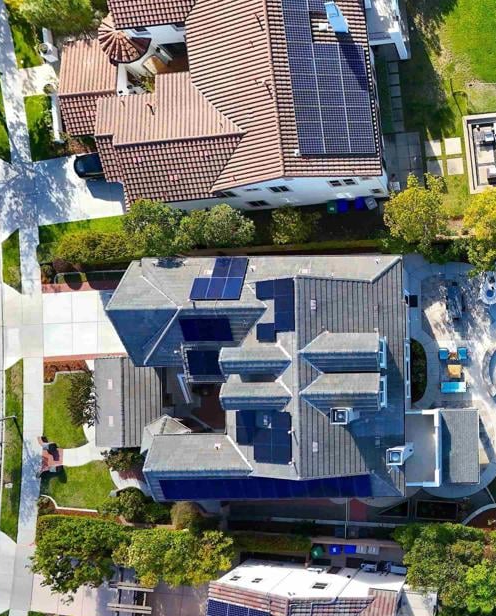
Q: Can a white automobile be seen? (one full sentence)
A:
No, there is no white automobile in the image.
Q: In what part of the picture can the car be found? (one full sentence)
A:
You can find the car in the top left area of the picture.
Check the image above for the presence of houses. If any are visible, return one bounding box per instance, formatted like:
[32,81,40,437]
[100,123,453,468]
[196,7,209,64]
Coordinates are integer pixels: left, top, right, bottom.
[94,256,480,503]
[206,564,435,616]
[57,0,413,222]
